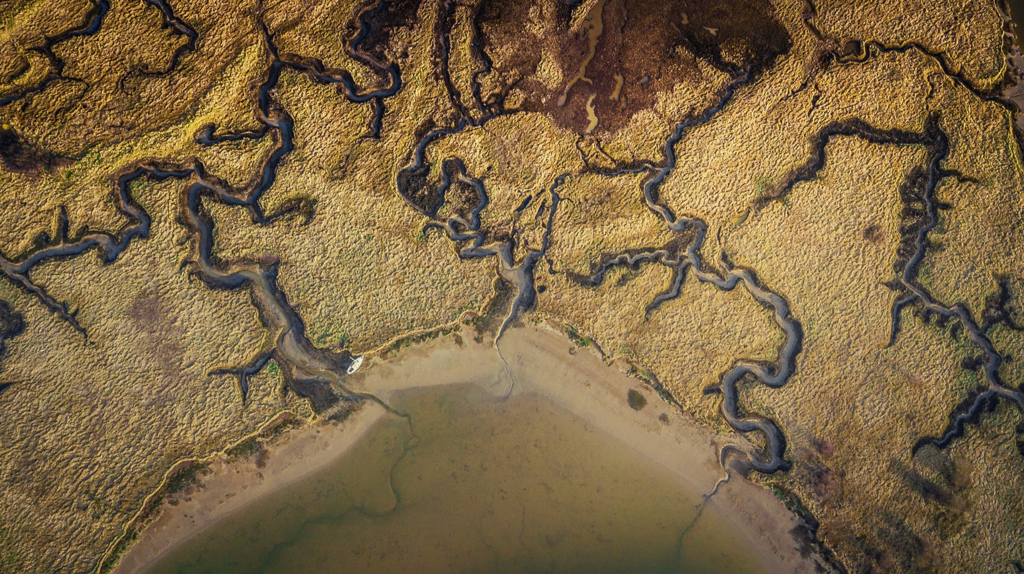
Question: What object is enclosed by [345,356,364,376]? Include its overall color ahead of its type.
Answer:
white boat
